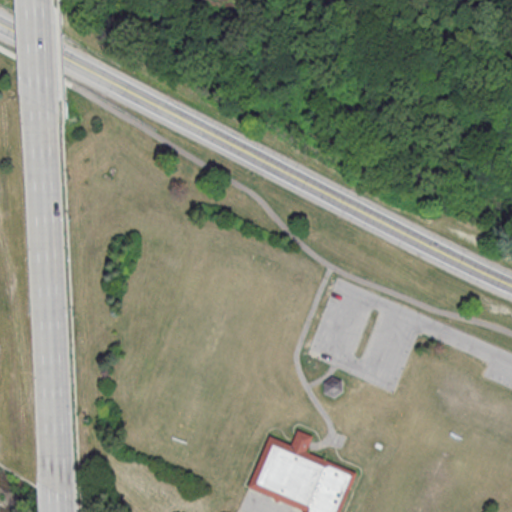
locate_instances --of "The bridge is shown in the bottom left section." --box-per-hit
[36,456,80,512]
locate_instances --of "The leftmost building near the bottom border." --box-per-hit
[248,430,357,512]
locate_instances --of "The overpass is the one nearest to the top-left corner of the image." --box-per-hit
[13,4,68,116]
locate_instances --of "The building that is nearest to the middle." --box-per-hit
[324,376,344,398]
